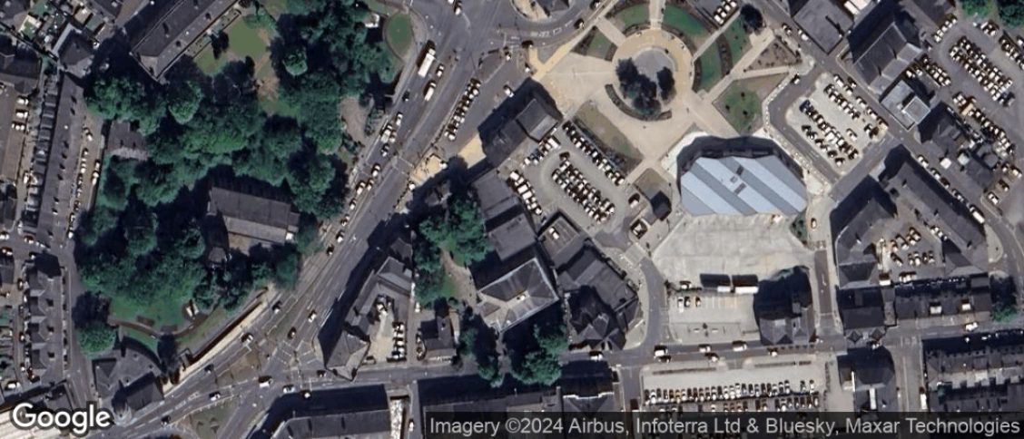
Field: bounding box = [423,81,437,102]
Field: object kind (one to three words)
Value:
vehicle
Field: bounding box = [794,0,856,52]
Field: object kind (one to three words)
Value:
building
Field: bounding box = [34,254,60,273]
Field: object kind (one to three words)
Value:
house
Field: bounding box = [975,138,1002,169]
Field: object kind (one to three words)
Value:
building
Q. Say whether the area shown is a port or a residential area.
residential area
